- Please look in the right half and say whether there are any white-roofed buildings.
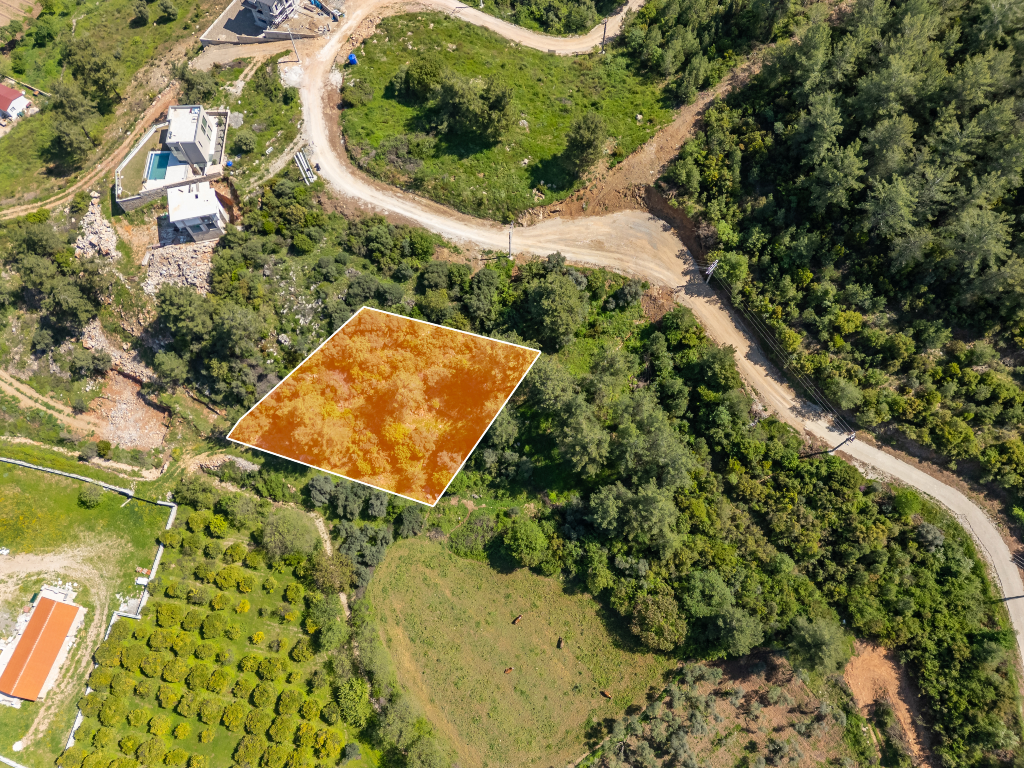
No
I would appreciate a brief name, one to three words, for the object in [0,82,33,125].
house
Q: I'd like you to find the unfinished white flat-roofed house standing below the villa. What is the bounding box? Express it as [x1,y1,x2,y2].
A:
[168,182,237,241]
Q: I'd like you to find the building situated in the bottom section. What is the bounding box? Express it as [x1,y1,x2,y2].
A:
[0,583,88,712]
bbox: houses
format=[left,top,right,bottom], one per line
[163,106,219,167]
[168,182,237,241]
[246,0,291,27]
[0,82,33,125]
[0,583,88,712]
